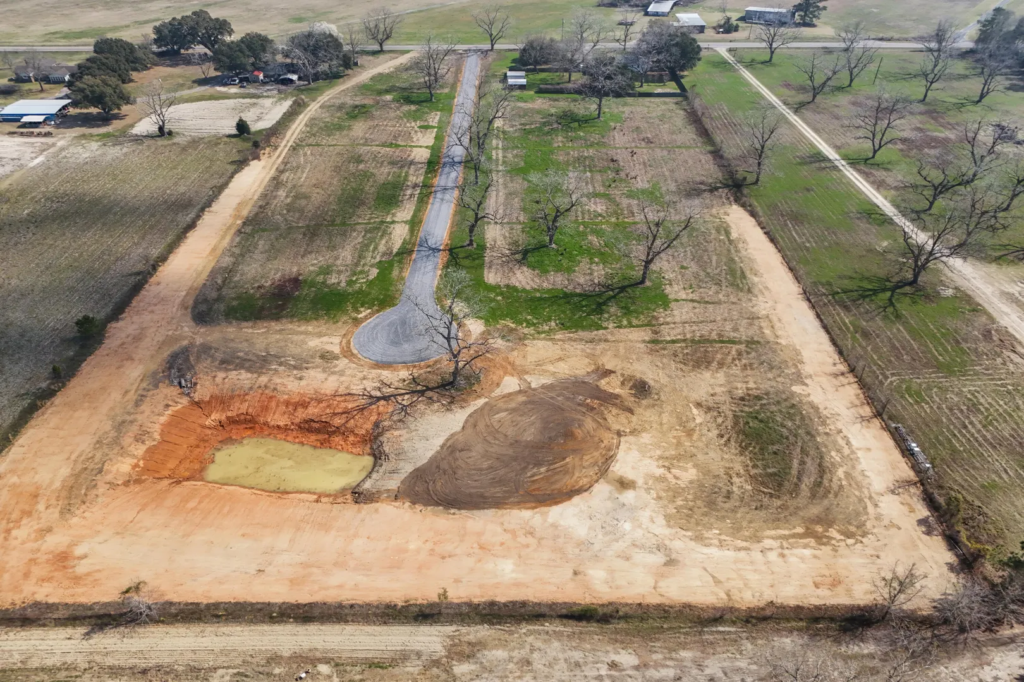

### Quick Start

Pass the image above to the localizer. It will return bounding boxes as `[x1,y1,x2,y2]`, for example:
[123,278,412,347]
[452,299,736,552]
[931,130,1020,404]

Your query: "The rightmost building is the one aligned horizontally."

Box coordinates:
[743,11,794,24]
